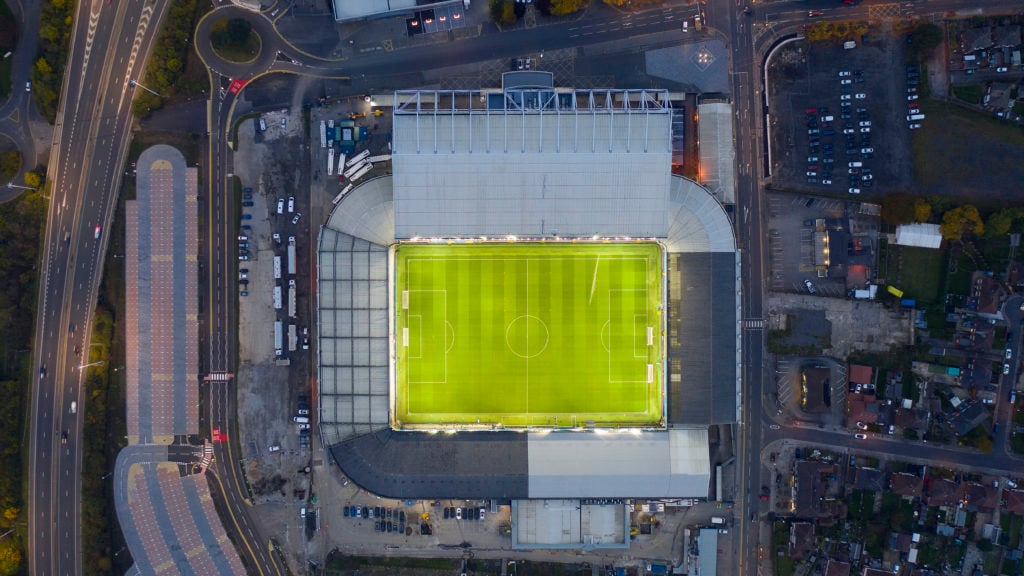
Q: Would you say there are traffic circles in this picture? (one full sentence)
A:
Yes, the photo shows a traffic circle.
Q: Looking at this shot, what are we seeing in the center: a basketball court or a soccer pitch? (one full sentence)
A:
Visible in the center is a soccer pitch.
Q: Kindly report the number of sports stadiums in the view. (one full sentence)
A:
The photo contains exactly 1 sports stadium.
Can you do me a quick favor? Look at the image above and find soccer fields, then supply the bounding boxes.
[396,242,662,425]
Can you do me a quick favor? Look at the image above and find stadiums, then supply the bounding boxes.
[316,70,742,499]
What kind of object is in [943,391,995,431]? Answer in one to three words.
house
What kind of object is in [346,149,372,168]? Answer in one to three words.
vehicle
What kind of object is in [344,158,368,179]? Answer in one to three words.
bus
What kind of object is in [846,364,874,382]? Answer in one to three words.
house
